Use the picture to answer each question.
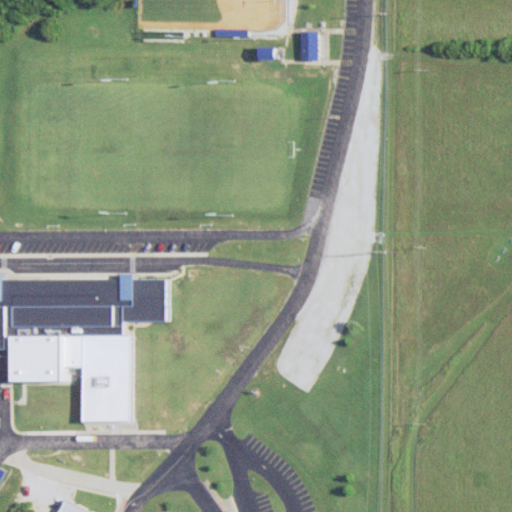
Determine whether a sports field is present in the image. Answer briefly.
Yes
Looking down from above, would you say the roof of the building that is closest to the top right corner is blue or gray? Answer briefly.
blue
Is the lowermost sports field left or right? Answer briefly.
left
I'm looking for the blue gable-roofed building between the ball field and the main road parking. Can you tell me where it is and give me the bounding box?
[301,32,322,61]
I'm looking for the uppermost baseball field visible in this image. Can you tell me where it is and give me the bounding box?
[138,0,298,38]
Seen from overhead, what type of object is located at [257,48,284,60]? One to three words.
building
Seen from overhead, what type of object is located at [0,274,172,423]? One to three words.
building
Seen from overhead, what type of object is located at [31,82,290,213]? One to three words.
sports field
